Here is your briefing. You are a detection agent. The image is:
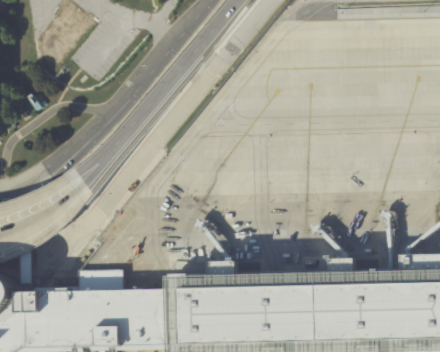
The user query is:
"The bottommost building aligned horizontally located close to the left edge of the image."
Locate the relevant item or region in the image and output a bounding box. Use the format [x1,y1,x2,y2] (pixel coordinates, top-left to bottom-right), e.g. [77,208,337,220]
[0,288,163,352]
